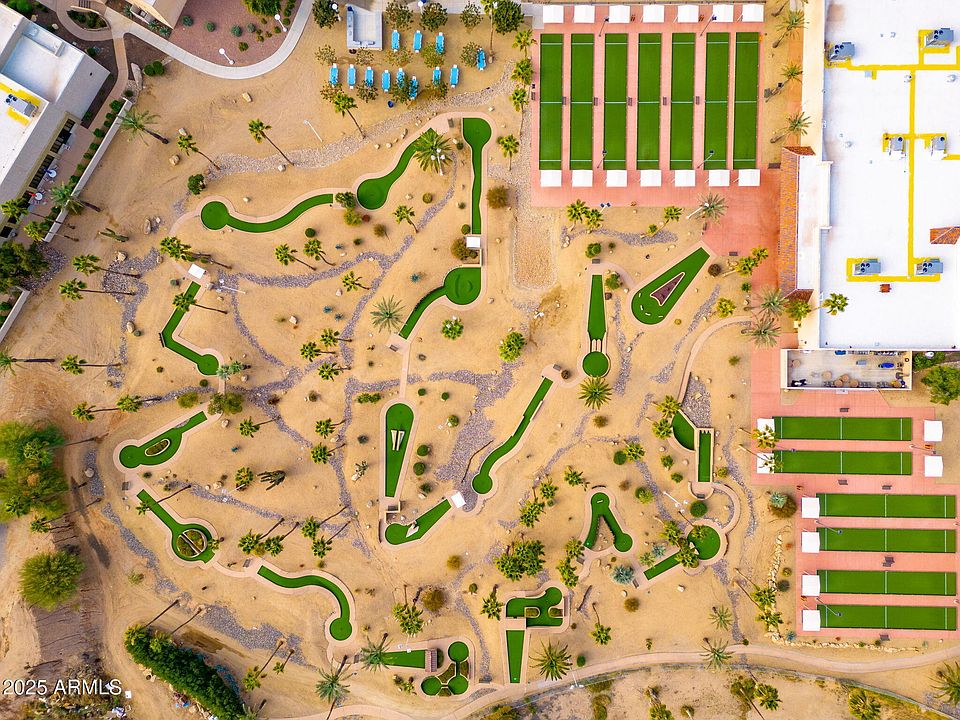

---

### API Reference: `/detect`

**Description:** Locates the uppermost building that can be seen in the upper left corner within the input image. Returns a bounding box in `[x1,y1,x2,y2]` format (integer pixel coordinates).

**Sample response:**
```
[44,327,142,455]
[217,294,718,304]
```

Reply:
[123,0,188,35]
